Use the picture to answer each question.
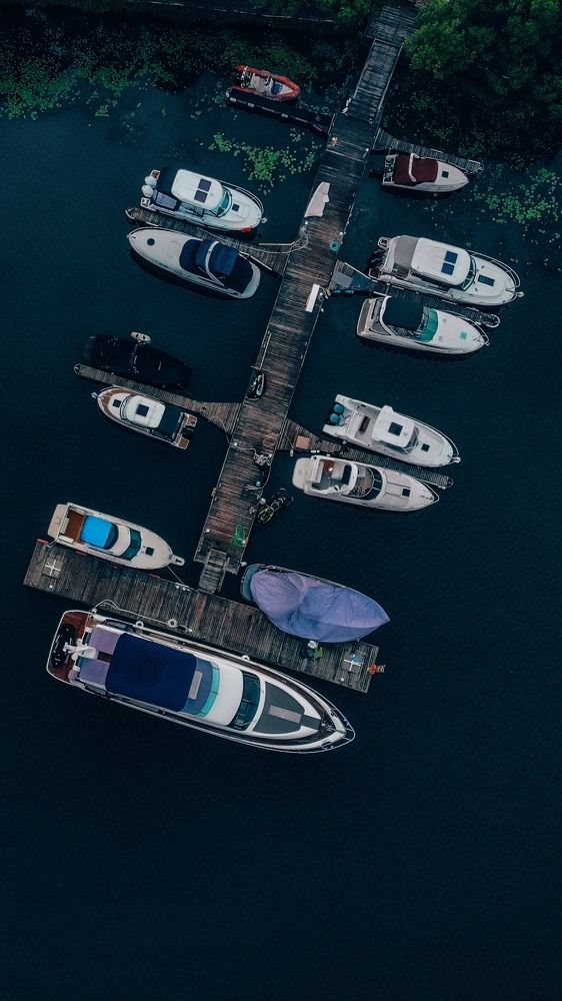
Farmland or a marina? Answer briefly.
marina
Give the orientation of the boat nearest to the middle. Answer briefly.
on a diagonal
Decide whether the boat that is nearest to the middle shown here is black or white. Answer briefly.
black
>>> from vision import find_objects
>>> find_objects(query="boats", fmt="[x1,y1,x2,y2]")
[227,59,299,102]
[125,227,264,307]
[378,150,471,195]
[142,167,269,233]
[325,397,456,466]
[241,561,390,643]
[372,237,521,310]
[244,370,266,401]
[257,492,289,524]
[94,390,196,449]
[291,452,441,507]
[49,502,181,566]
[48,608,358,750]
[79,331,194,390]
[353,298,489,357]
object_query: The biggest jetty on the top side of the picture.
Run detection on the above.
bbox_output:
[194,112,376,575]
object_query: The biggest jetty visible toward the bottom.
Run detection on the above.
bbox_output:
[23,541,379,693]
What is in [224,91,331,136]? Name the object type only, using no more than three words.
pier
